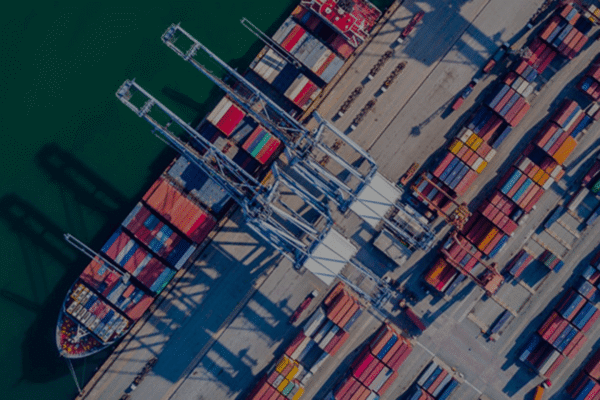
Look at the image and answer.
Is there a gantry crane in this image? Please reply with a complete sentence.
Yes, a gantry crane appears in the view.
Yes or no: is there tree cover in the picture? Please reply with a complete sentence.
No, there's no tree cover in this view.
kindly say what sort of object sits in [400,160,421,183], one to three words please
work vehicle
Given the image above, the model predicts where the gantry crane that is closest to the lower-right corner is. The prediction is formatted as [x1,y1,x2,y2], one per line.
[430,234,501,293]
